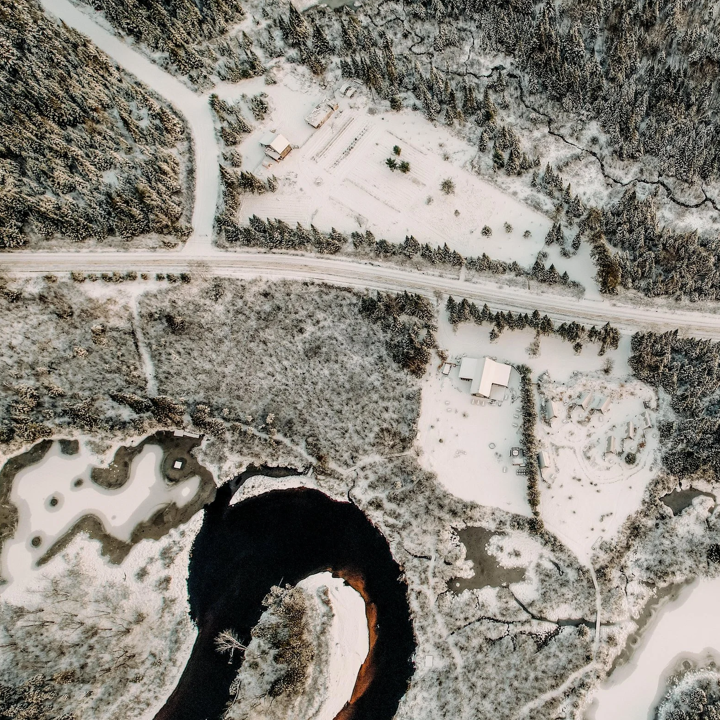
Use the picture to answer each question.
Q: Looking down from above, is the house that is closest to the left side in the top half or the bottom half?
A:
top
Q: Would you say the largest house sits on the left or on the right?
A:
right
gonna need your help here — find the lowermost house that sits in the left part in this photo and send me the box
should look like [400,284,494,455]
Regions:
[261,130,292,163]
